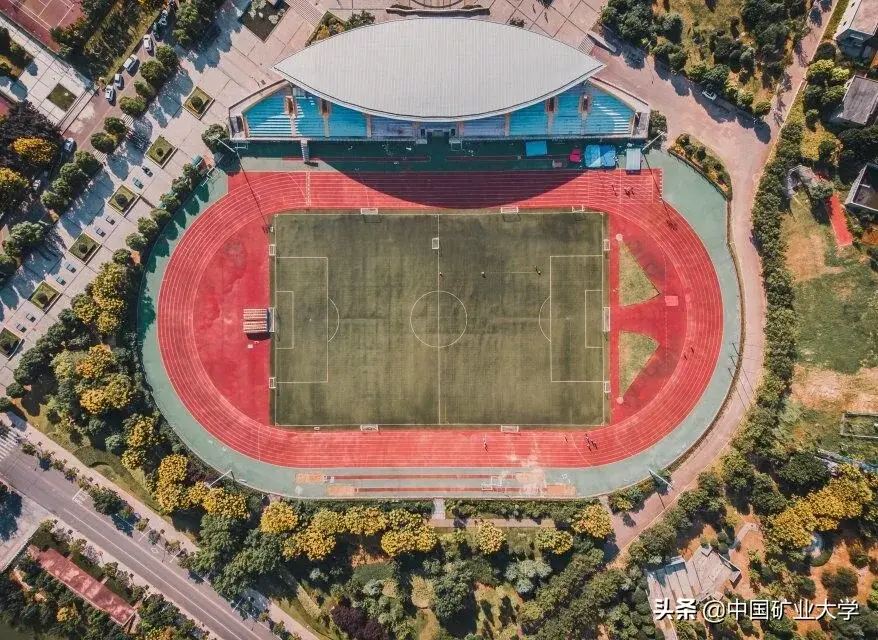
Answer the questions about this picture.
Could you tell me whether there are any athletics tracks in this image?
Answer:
Yes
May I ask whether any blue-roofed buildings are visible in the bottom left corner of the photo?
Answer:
No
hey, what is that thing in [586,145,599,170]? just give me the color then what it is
blue tent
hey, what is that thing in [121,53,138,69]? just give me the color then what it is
white vehicle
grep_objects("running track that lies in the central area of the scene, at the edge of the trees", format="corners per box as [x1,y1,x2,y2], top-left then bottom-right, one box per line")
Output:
[158,172,723,468]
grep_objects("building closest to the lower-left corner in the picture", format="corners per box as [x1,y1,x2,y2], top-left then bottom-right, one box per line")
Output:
[29,540,143,625]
